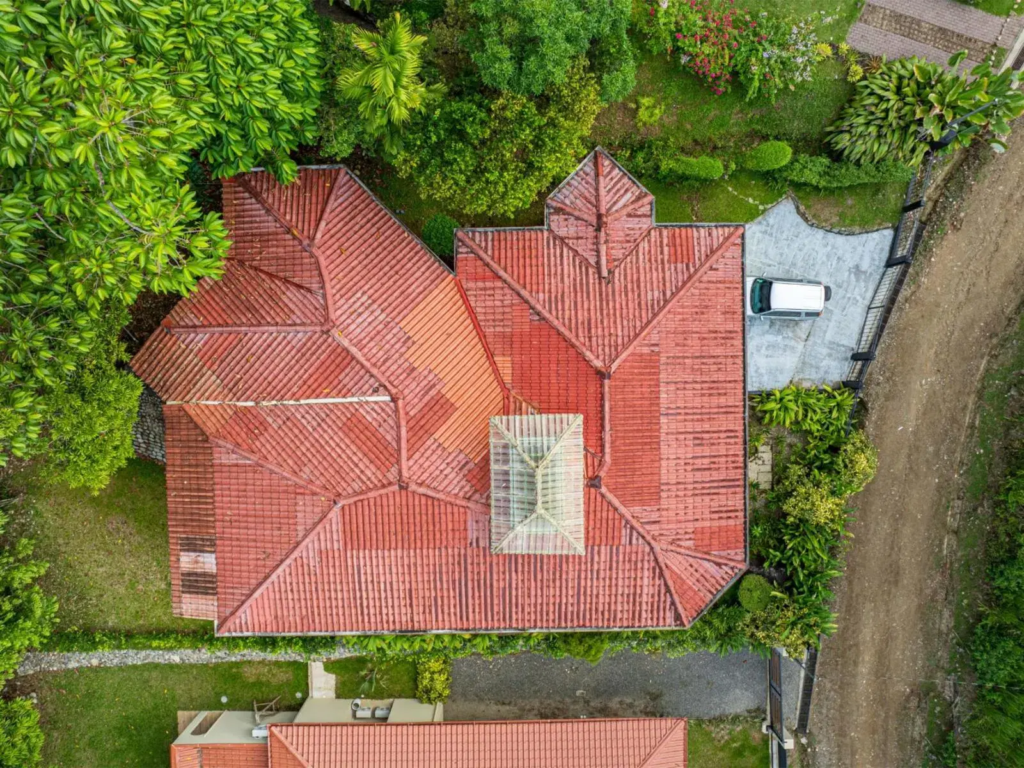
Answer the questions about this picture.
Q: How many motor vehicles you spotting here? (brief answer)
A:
1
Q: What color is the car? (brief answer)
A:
white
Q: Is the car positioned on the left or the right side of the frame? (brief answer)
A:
right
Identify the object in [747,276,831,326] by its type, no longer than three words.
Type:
car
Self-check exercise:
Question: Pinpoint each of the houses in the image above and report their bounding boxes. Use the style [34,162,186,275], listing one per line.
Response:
[167,699,690,768]
[131,146,749,636]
